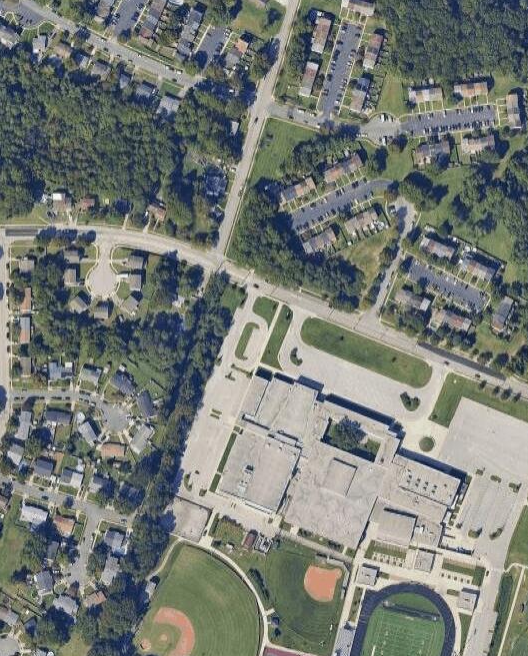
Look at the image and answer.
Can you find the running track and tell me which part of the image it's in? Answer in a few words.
bottom right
